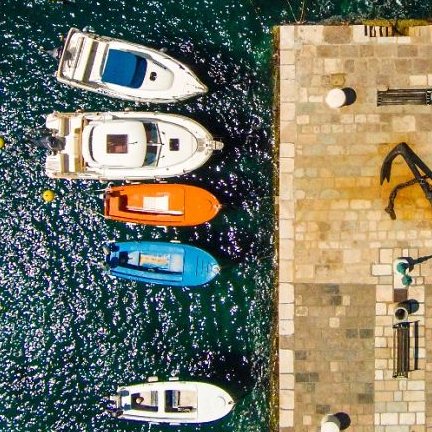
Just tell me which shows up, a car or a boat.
boat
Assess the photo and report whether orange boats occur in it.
Yes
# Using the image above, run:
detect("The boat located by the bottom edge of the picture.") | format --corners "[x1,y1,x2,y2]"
[96,376,278,424]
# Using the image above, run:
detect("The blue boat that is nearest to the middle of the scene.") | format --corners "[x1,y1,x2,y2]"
[93,239,275,287]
